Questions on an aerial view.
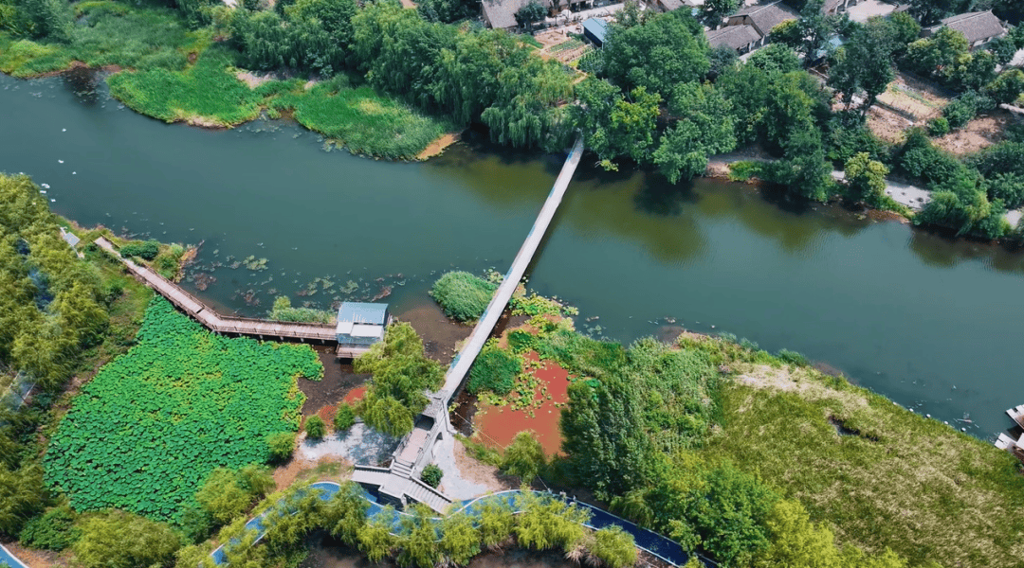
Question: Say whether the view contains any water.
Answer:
Yes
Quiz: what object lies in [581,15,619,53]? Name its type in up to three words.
shed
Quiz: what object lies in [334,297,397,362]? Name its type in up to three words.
shed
